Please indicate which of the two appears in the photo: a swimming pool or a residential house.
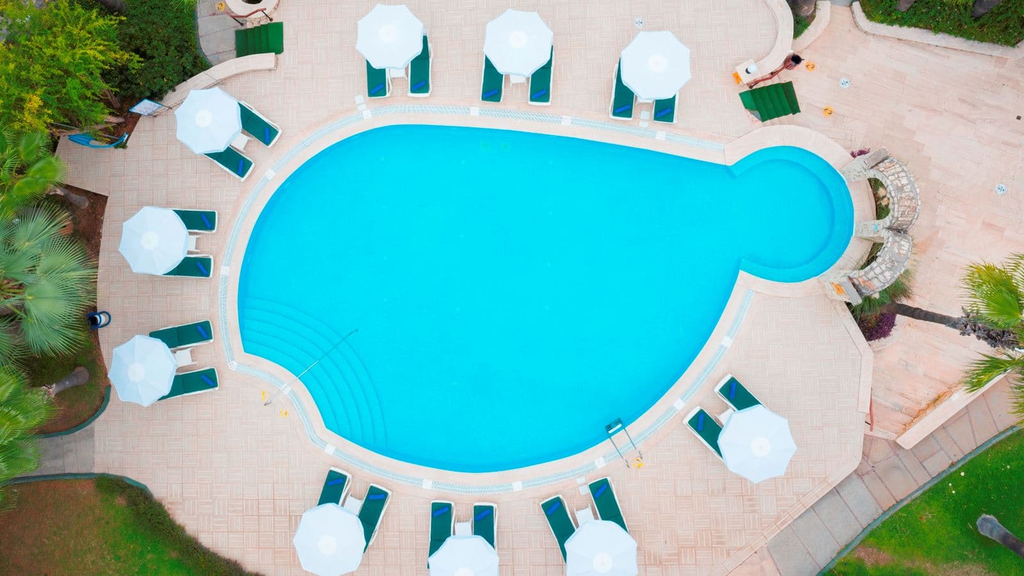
swimming pool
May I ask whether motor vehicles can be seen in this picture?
No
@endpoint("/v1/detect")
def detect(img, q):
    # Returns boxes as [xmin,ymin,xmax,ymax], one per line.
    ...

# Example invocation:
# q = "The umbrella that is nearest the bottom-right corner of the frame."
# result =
[717,404,797,483]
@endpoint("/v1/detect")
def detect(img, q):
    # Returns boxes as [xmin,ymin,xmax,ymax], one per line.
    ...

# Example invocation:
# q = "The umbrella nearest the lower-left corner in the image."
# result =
[106,336,176,405]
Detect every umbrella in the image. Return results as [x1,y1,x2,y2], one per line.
[356,4,422,70]
[120,207,191,276]
[430,538,497,576]
[485,7,553,76]
[176,88,242,153]
[567,520,635,576]
[106,336,176,405]
[622,32,688,99]
[717,404,797,483]
[293,502,367,576]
